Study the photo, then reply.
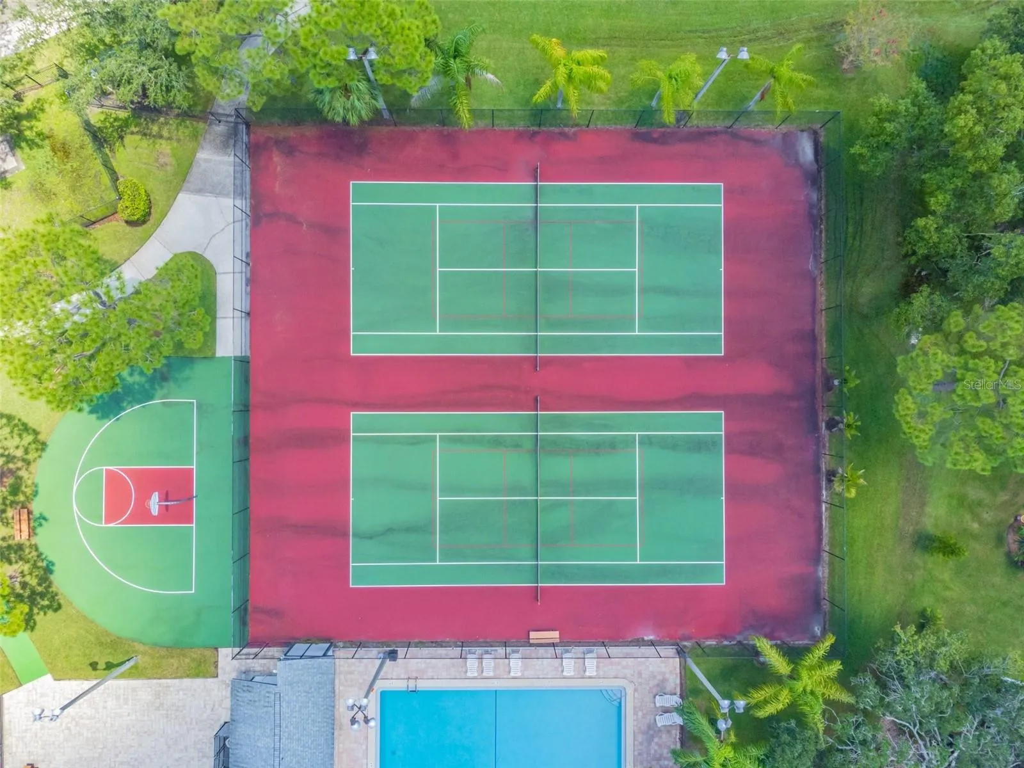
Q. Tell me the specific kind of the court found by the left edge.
basketball court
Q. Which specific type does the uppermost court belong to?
tennis court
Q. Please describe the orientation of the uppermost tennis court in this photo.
from left to right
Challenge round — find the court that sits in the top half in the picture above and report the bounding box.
[350,182,724,355]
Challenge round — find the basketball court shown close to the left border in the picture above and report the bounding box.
[36,356,249,649]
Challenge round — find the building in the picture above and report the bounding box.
[226,644,335,768]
